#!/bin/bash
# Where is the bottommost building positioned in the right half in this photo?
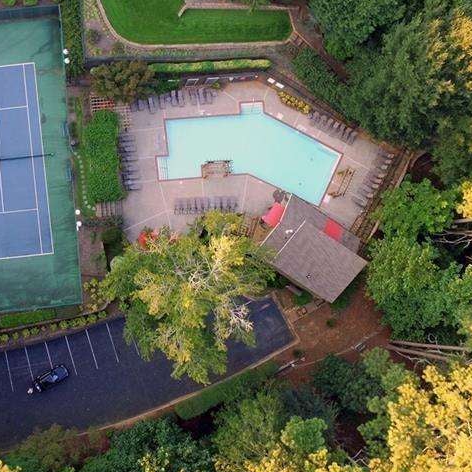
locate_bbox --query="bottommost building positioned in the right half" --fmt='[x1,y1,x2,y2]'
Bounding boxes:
[260,193,371,304]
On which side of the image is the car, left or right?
left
